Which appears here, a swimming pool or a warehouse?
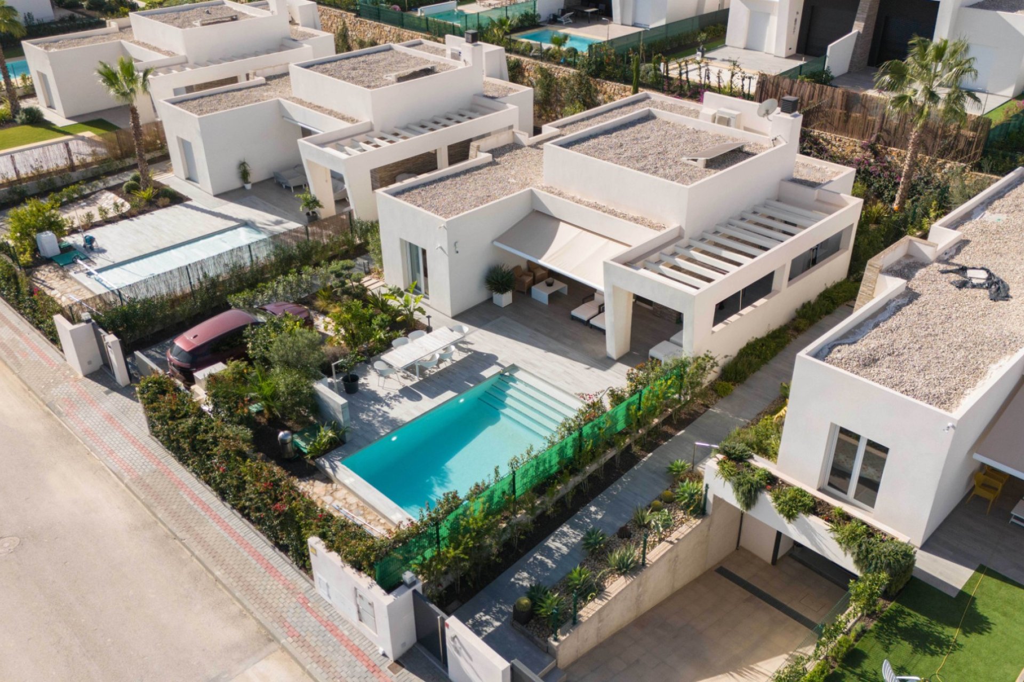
swimming pool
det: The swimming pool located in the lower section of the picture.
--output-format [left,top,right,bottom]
[341,366,595,517]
